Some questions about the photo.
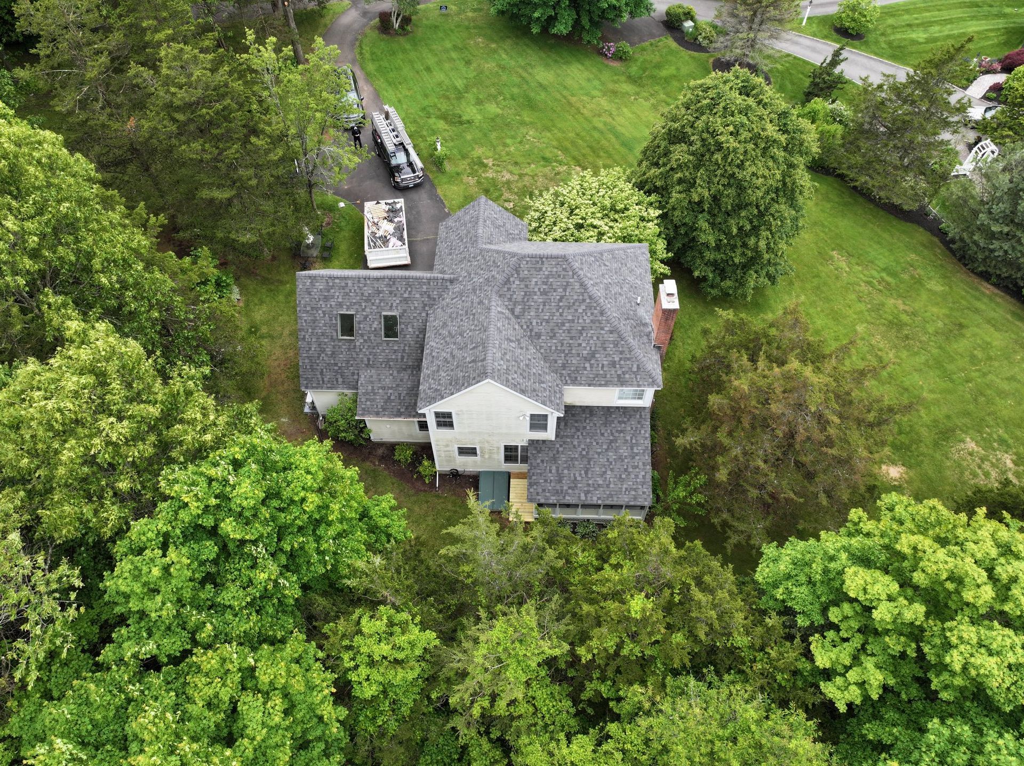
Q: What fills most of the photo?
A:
trees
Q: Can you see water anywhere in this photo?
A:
No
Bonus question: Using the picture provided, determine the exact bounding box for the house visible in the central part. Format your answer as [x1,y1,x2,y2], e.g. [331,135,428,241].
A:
[295,189,680,528]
